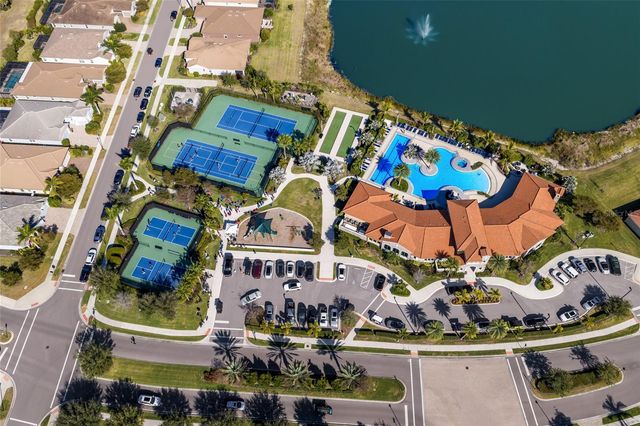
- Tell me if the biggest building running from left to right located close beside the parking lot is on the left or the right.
right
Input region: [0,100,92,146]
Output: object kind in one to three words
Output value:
house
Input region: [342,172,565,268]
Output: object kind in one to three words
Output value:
building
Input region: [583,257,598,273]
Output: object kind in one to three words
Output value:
car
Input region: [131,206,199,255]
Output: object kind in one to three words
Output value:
sports court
